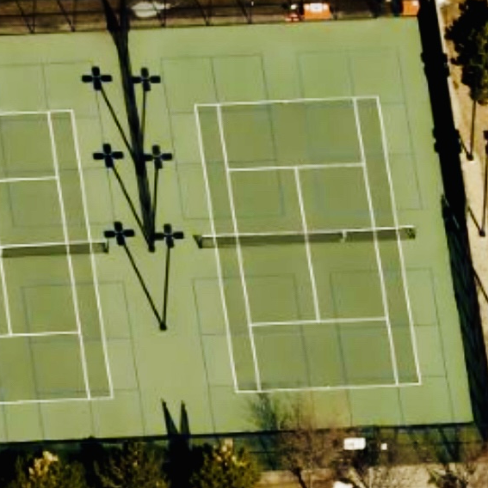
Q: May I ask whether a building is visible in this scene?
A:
No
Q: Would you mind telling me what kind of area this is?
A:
sports ground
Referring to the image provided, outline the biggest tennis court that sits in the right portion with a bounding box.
[195,96,420,392]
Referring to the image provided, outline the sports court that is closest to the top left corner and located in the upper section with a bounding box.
[0,60,116,226]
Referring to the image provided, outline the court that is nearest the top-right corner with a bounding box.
[296,47,421,213]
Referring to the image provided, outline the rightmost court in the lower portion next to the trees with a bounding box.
[328,268,455,436]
